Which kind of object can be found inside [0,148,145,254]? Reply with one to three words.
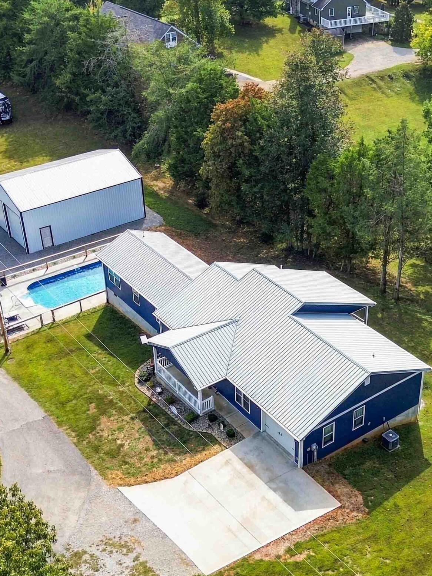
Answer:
barn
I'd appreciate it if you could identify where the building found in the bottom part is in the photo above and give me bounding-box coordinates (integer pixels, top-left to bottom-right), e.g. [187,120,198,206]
[97,229,432,470]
